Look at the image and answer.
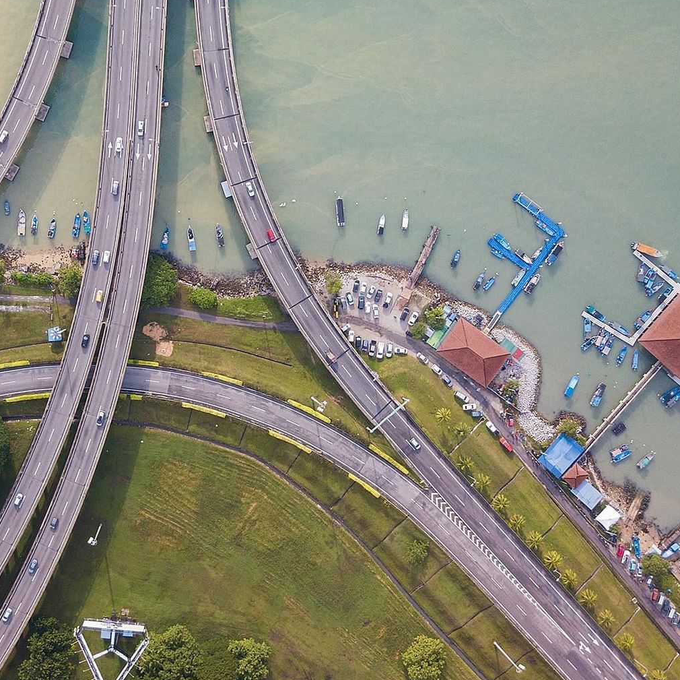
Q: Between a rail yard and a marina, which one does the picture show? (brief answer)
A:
marina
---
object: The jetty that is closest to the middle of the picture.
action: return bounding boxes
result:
[408,226,439,286]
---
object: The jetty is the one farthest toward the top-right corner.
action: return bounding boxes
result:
[489,194,567,314]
